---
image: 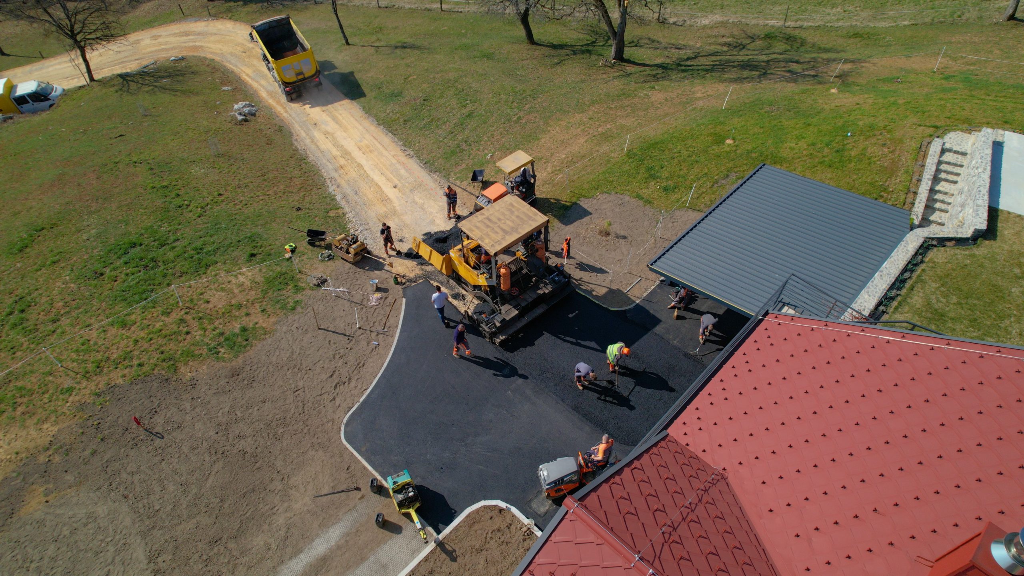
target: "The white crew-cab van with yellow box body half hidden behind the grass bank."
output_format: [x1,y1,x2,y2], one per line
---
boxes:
[0,72,68,114]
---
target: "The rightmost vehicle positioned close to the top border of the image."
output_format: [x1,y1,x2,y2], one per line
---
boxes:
[249,12,325,98]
